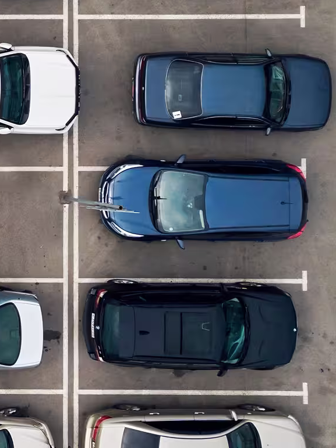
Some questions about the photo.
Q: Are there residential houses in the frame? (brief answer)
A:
No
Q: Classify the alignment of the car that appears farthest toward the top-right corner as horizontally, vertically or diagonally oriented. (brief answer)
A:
horizontally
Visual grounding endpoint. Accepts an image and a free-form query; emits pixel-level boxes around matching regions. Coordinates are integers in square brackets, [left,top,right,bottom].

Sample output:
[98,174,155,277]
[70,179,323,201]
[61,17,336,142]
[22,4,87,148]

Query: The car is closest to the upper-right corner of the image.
[131,43,332,138]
